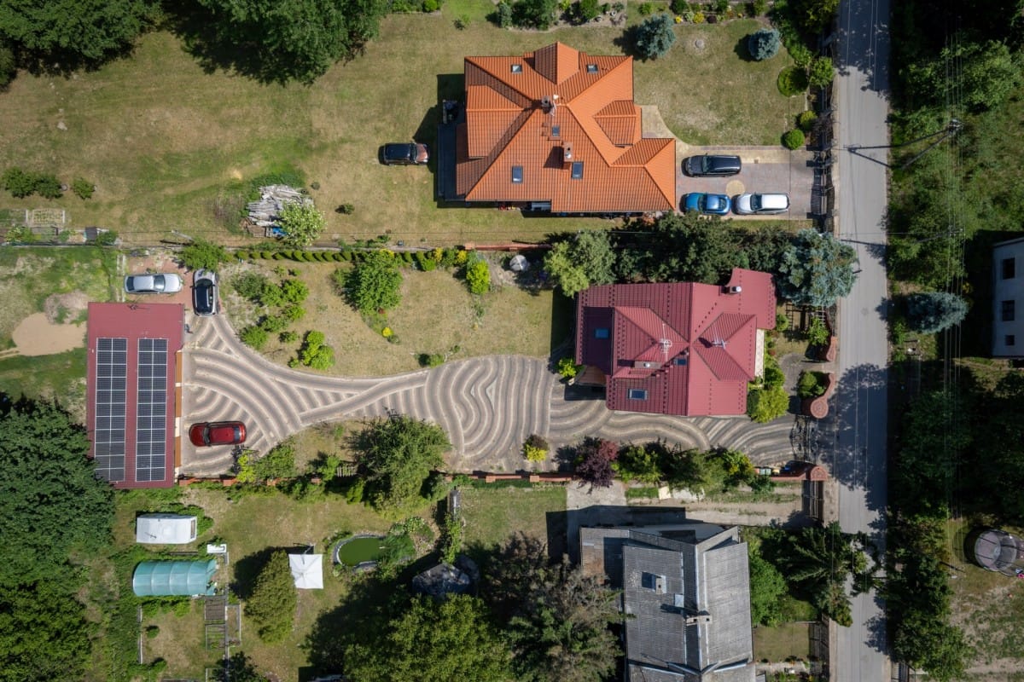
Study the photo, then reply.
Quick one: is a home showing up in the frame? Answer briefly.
Yes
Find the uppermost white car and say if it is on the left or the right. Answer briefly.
right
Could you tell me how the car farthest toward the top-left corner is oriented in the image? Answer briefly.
from side to side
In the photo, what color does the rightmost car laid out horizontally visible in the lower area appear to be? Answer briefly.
red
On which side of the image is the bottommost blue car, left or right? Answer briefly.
right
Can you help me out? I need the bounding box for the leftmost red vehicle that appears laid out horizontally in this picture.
[192,421,248,447]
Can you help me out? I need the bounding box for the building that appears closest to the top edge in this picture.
[456,41,677,213]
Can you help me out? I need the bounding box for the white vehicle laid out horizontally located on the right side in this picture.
[733,191,790,216]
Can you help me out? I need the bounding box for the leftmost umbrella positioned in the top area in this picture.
[509,255,527,273]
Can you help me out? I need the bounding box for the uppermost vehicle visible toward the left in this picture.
[381,140,429,166]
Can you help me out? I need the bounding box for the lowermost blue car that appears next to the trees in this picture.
[682,191,731,216]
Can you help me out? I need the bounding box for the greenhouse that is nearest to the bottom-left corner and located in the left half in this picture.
[127,557,224,597]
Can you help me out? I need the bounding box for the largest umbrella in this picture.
[289,541,324,589]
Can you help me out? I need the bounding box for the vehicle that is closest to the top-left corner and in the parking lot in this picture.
[125,269,185,295]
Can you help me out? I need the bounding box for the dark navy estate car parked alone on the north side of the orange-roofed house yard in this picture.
[682,151,741,178]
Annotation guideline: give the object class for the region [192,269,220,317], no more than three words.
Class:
car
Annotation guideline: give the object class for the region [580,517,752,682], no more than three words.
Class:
house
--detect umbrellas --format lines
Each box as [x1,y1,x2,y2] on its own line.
[289,541,324,589]
[509,255,527,273]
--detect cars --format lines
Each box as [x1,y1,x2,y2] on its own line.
[381,140,429,166]
[733,191,790,216]
[682,151,741,178]
[682,191,731,216]
[125,269,185,295]
[192,421,248,447]
[192,269,220,317]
